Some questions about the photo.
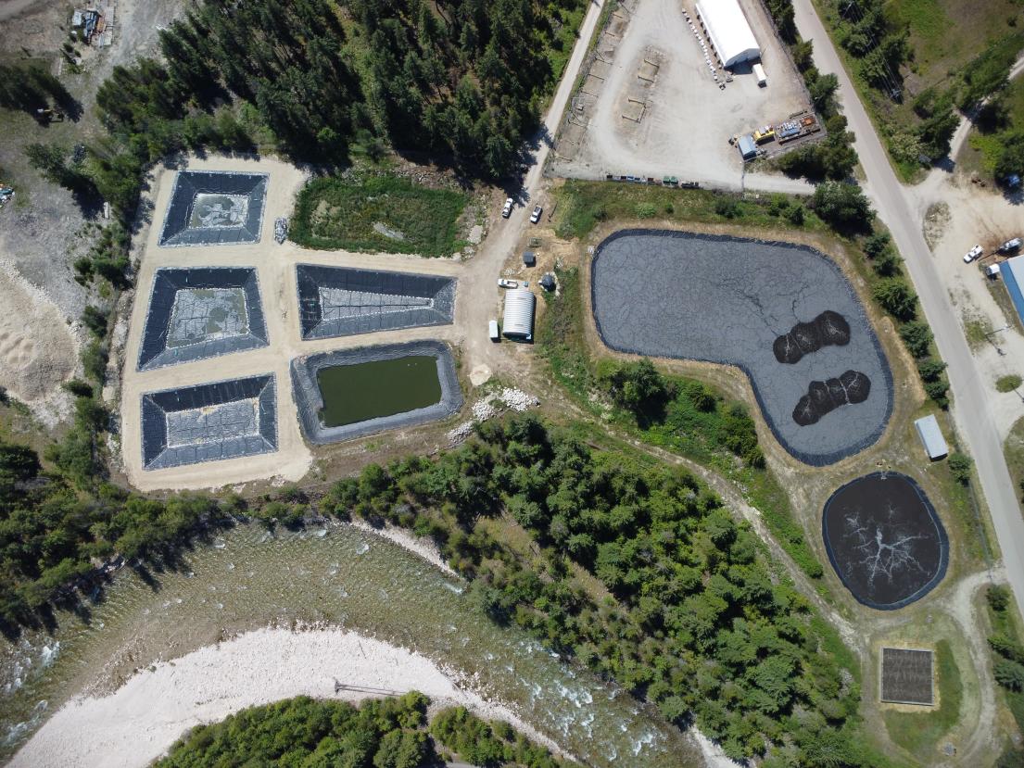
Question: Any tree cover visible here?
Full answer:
Yes, there is tree cover in the image.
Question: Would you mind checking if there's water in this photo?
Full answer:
Yes, there is water in the image.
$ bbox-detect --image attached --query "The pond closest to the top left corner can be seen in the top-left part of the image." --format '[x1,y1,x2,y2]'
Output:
[157,169,270,247]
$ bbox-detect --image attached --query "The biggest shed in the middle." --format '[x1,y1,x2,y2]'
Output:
[503,290,533,336]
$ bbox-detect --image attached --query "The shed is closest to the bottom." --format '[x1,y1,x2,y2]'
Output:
[910,414,948,459]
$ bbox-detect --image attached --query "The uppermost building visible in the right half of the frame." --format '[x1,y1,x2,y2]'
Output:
[692,0,760,68]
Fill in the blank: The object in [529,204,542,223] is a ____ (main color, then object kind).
white vehicle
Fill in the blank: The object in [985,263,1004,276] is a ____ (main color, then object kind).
white vehicle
